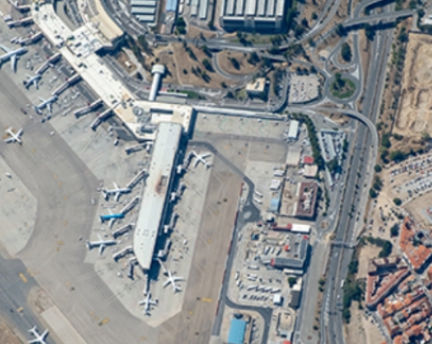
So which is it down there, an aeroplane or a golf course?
aeroplane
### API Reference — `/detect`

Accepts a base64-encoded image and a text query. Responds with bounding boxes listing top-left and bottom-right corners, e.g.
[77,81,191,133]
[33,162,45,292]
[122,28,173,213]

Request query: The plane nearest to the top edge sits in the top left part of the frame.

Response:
[0,45,29,66]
